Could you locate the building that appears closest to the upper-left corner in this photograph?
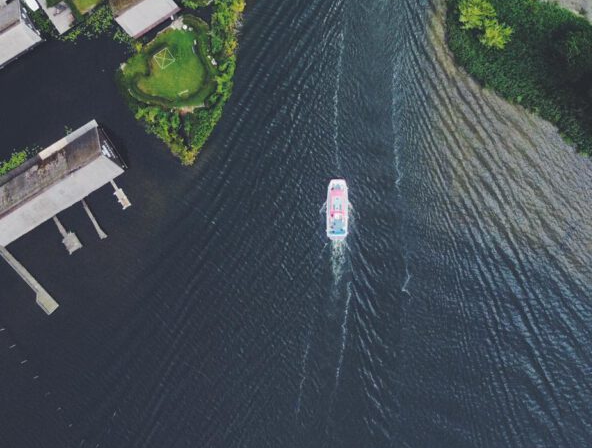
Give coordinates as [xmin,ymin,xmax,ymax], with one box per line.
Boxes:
[0,0,46,67]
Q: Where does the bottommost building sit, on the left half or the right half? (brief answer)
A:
left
